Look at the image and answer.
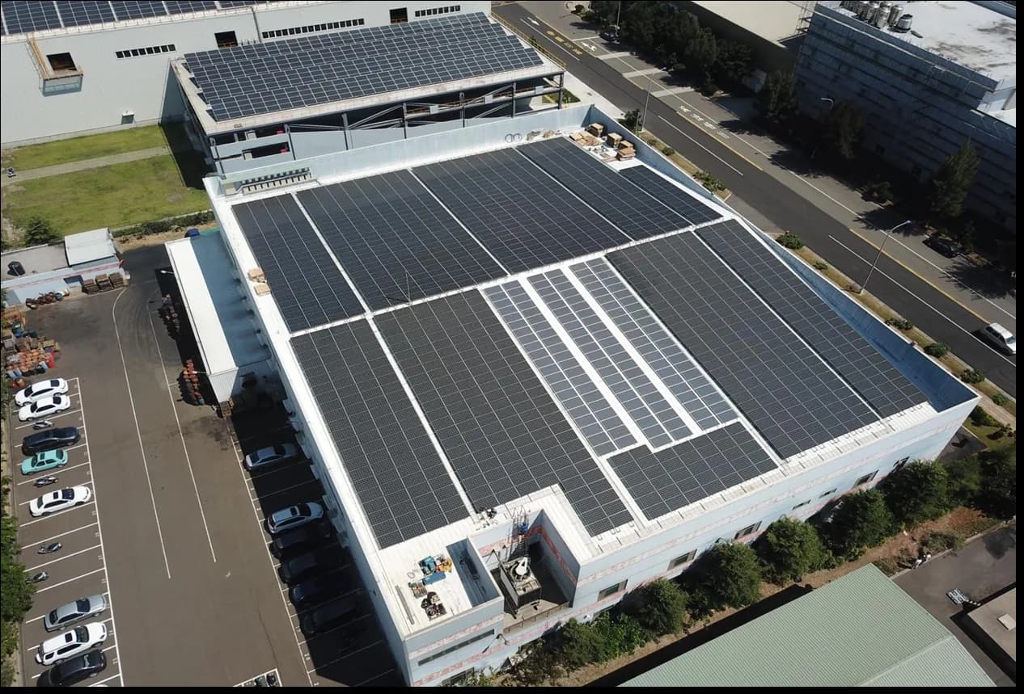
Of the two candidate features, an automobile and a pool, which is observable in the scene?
automobile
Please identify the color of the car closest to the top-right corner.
black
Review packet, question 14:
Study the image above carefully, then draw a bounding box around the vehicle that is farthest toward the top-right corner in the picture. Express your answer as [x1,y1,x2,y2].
[924,235,961,257]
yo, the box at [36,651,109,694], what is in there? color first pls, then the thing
black car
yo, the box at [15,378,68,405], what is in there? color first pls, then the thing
white car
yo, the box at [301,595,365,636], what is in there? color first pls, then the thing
black car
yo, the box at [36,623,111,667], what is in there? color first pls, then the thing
white car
